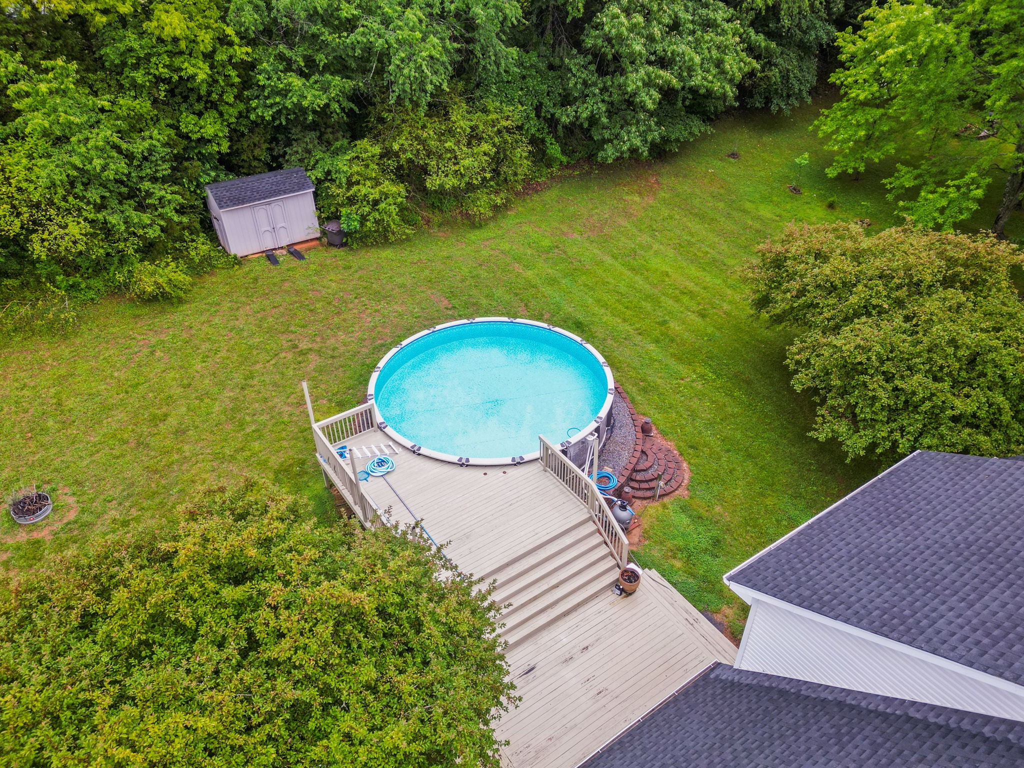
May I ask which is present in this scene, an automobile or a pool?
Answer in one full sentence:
Looking from above, you can make out a pool.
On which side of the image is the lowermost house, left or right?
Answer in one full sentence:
The lowermost house is on the right side of the image.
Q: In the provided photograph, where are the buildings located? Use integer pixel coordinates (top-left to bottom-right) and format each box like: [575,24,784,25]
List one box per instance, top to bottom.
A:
[200,166,320,261]
[565,437,1024,768]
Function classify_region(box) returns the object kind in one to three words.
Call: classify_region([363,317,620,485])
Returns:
swimming pool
